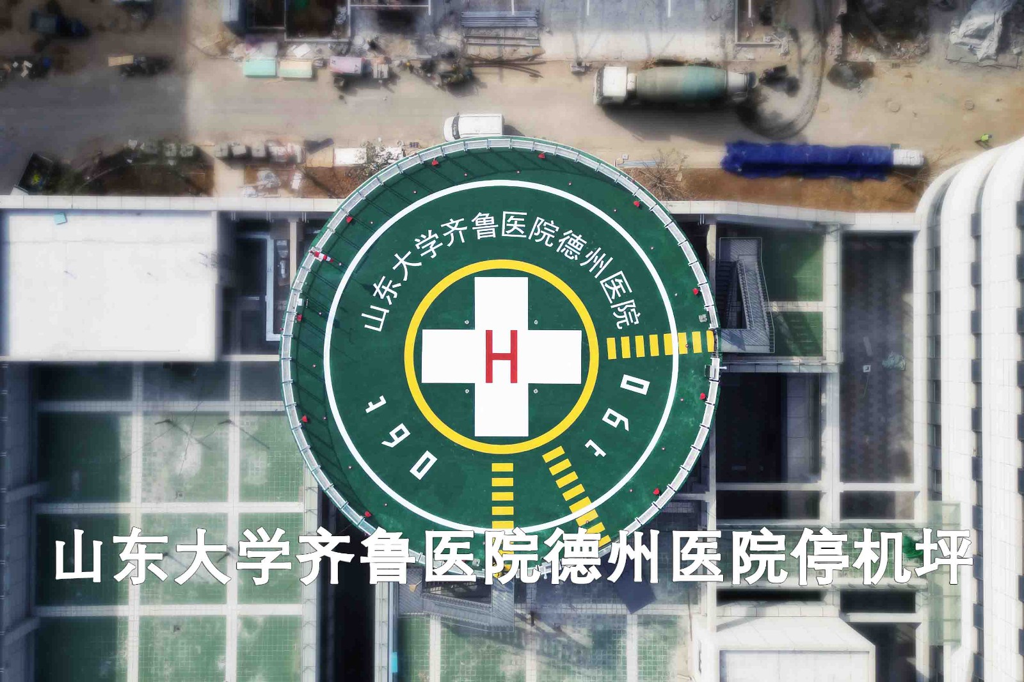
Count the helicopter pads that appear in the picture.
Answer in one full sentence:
My tally gives 1 helicopter pad in this photo.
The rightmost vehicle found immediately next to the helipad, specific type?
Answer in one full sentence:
The rightmost vehicle found immediately next to the helipad appears to be a truck.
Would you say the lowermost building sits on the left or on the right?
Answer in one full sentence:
You can find the lowermost building on the right side of the picture.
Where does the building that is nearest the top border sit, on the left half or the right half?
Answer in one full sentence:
The building that is nearest the top border sits on the left side.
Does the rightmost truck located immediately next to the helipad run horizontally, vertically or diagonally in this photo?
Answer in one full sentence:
The rightmost truck located immediately next to the helipad has been laid out horizontally relative to the frame.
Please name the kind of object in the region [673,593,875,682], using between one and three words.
building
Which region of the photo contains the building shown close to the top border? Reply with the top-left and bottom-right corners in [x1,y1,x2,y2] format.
[222,0,254,35]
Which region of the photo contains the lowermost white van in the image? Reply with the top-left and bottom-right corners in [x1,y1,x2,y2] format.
[444,111,504,141]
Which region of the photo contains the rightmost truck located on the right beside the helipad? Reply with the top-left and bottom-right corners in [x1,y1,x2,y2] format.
[593,64,752,114]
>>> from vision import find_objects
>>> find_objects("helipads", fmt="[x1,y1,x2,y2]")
[279,135,724,579]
